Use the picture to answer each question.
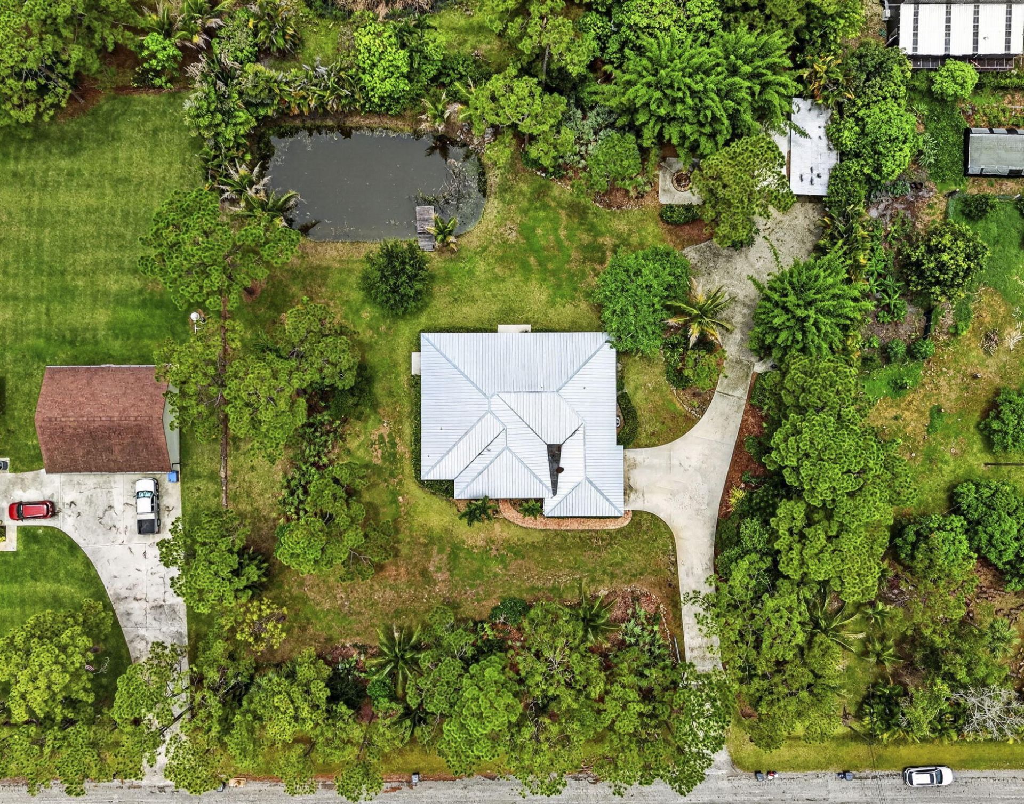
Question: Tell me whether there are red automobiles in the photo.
Yes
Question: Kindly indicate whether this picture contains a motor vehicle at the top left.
No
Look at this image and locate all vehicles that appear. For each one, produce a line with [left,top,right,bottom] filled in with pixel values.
[134,478,163,535]
[902,760,952,787]
[8,499,55,521]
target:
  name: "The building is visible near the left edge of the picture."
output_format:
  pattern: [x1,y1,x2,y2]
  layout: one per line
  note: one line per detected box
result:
[33,365,180,474]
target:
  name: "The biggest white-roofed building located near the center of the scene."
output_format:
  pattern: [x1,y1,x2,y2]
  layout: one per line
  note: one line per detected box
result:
[420,332,624,517]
